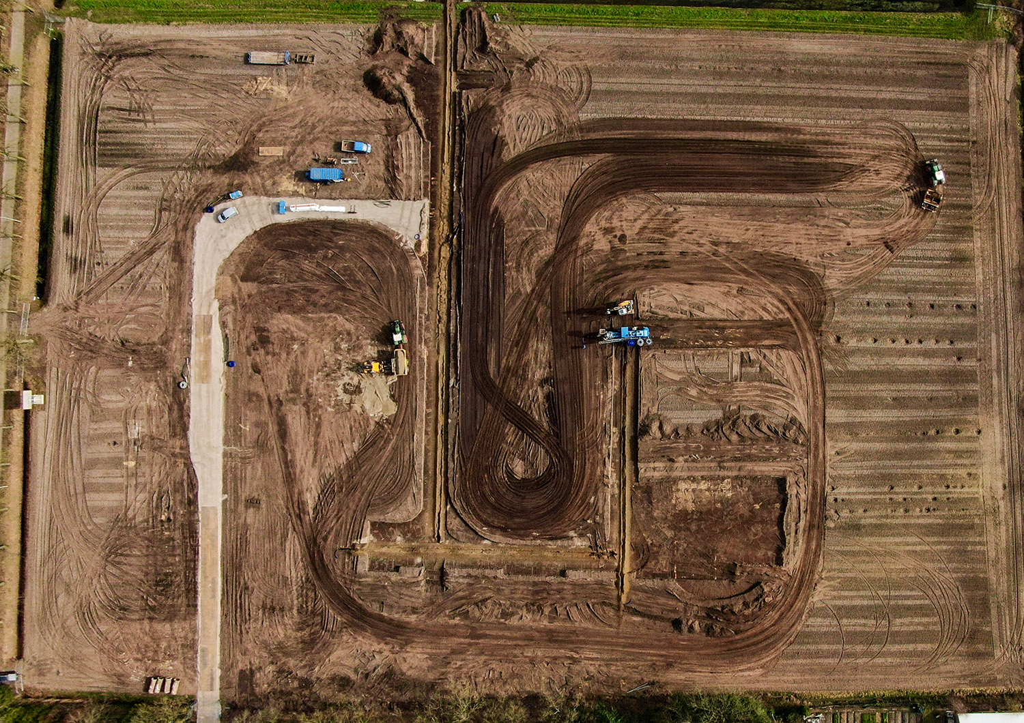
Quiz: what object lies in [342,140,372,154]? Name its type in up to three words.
vehicle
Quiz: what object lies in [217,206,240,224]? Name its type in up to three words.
vehicle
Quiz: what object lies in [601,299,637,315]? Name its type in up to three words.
work vehicle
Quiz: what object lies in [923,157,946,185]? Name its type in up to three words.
work vehicle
